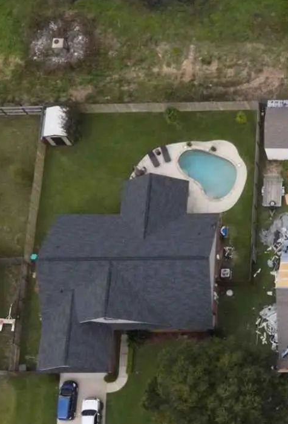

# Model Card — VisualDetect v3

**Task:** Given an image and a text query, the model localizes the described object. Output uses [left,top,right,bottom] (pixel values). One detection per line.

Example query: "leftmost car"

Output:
[52,380,78,422]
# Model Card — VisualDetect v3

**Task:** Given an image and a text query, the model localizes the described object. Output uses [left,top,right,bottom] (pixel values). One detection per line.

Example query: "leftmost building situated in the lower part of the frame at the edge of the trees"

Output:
[37,174,222,373]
